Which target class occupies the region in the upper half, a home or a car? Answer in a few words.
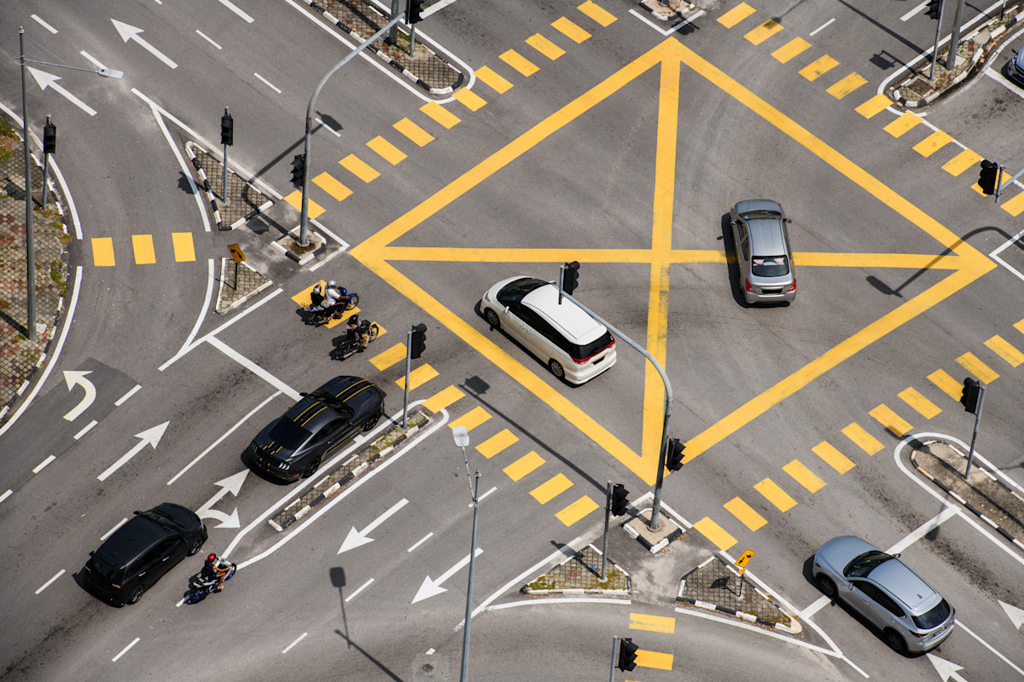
car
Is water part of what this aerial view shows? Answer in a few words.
No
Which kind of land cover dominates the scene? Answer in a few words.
paved ground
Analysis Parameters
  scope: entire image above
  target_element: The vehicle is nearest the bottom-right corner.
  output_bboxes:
[816,539,960,656]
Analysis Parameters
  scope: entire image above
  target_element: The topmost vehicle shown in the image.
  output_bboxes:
[1002,36,1024,83]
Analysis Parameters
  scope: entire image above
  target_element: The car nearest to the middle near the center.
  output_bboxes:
[479,272,619,385]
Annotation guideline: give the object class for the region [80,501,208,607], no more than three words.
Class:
car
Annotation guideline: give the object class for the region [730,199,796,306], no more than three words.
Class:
car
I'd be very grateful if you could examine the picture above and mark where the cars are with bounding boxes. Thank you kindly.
[246,374,387,485]
[816,539,960,656]
[730,199,796,306]
[1002,36,1024,83]
[80,501,208,607]
[479,272,619,385]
